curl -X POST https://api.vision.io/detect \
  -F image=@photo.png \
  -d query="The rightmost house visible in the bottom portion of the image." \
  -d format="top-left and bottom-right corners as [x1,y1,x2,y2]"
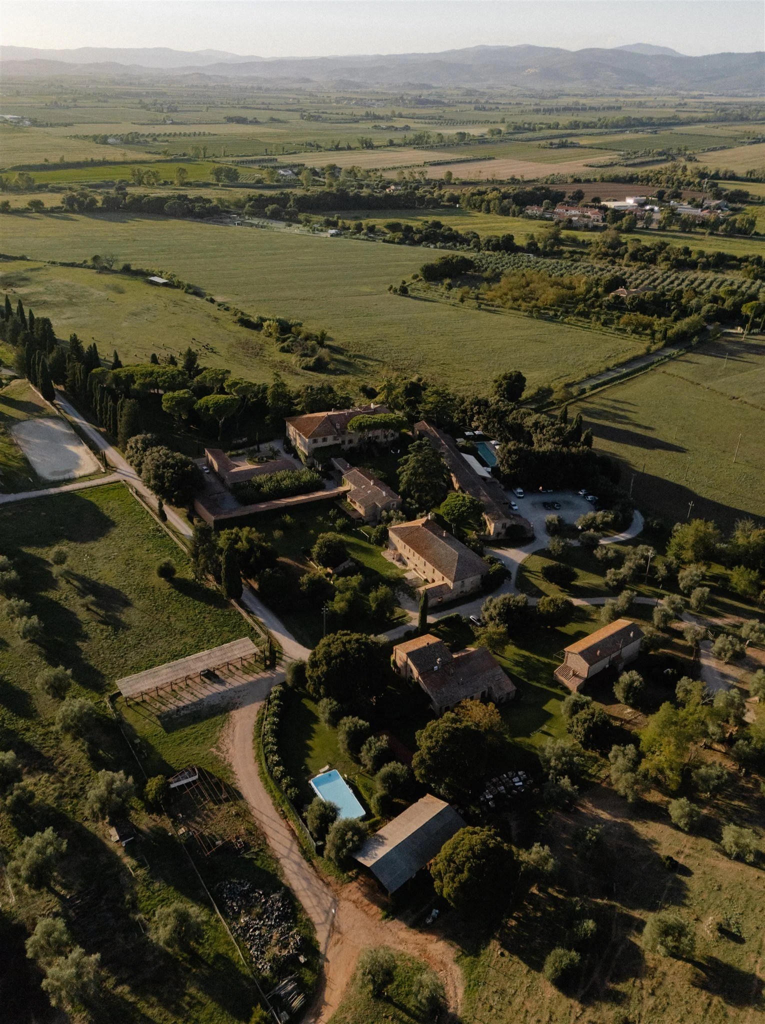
[563,617,647,686]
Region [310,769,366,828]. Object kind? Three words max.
swimming pool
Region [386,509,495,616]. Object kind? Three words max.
house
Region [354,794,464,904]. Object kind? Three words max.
barn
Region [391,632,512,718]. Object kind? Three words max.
house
